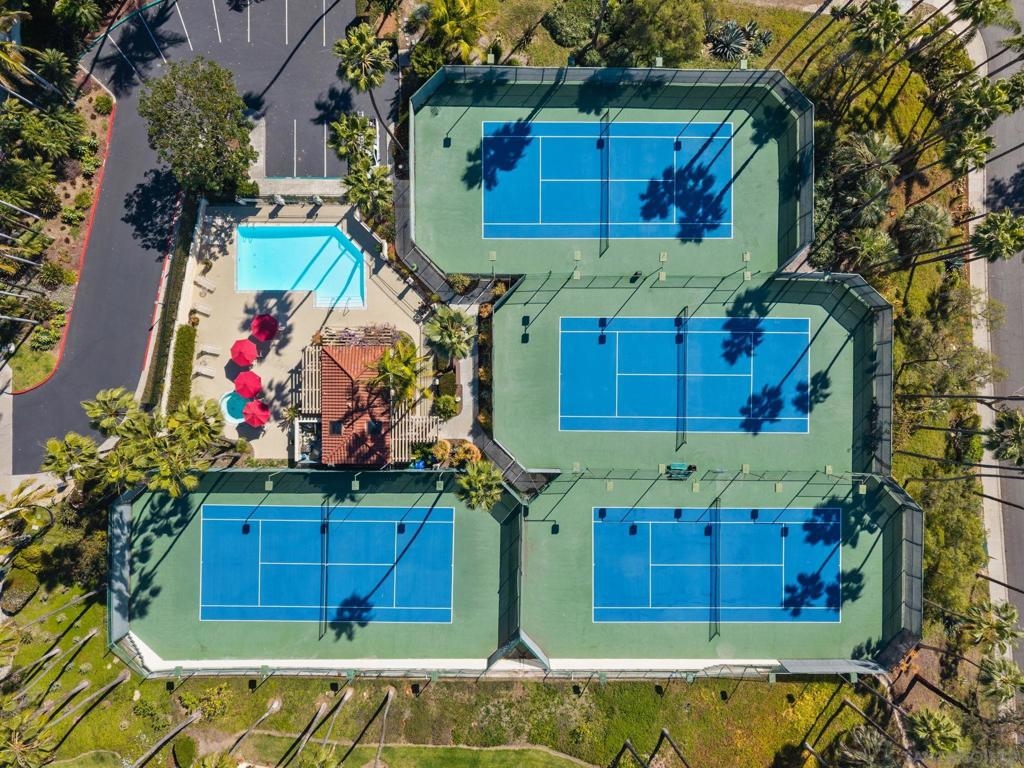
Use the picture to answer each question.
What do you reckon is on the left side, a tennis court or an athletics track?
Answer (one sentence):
You can see a tennis court on the left side.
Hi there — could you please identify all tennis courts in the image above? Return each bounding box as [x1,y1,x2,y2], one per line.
[522,471,903,660]
[493,278,872,471]
[129,467,521,660]
[414,82,799,278]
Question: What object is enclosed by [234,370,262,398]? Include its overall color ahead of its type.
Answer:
red umbrella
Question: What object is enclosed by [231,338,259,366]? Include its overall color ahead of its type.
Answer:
red umbrella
